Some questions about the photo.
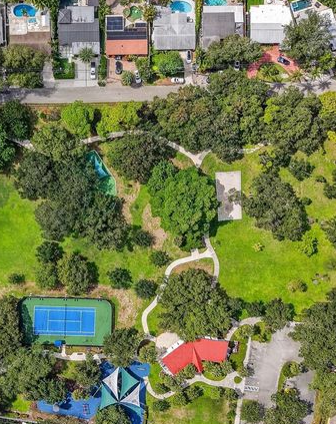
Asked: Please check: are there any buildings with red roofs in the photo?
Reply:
Yes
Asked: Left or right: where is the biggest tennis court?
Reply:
left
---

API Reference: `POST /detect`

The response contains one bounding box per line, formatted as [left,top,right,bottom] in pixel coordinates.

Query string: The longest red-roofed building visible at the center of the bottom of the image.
[158,336,229,378]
